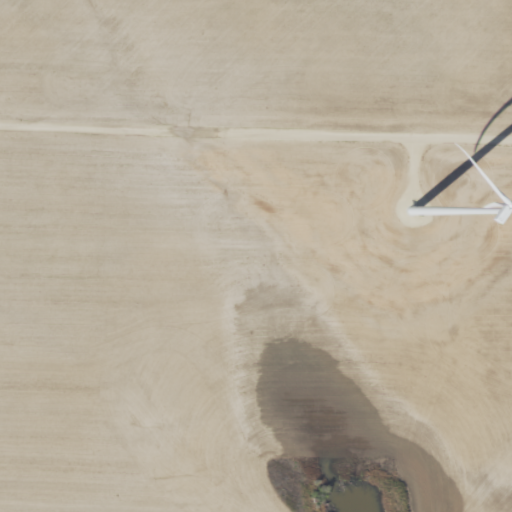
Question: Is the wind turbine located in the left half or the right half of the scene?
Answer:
right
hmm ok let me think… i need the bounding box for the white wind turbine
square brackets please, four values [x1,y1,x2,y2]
[406,143,512,224]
